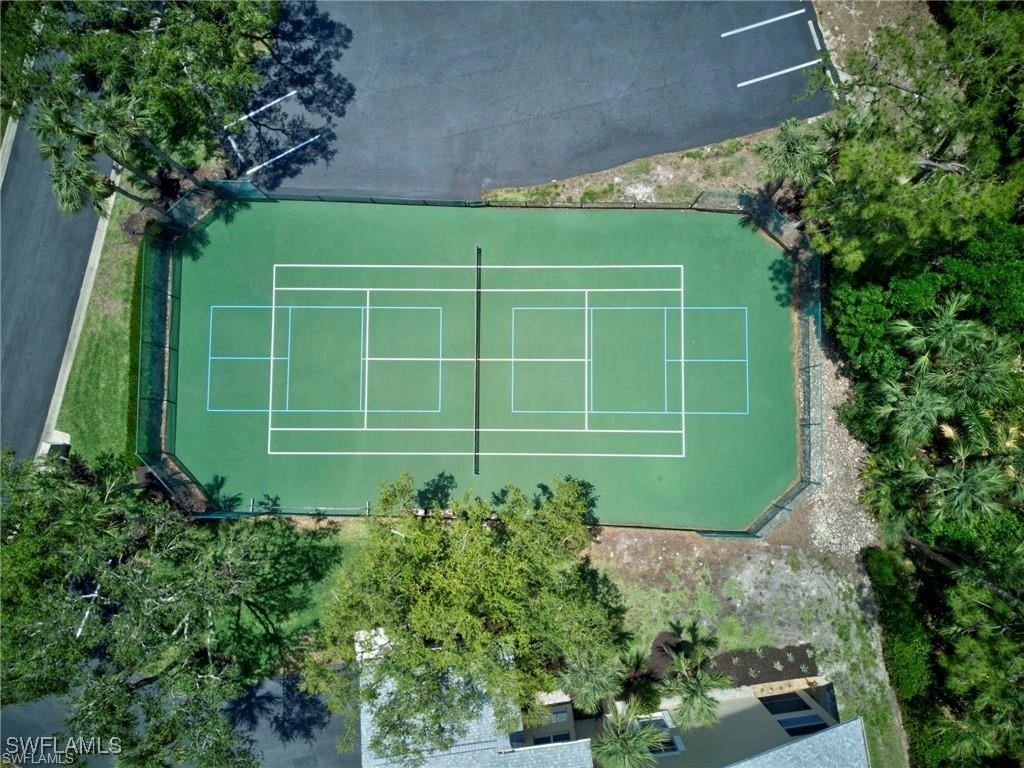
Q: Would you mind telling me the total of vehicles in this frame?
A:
none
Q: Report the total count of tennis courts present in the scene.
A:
1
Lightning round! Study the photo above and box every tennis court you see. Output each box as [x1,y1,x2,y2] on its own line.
[165,201,799,530]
